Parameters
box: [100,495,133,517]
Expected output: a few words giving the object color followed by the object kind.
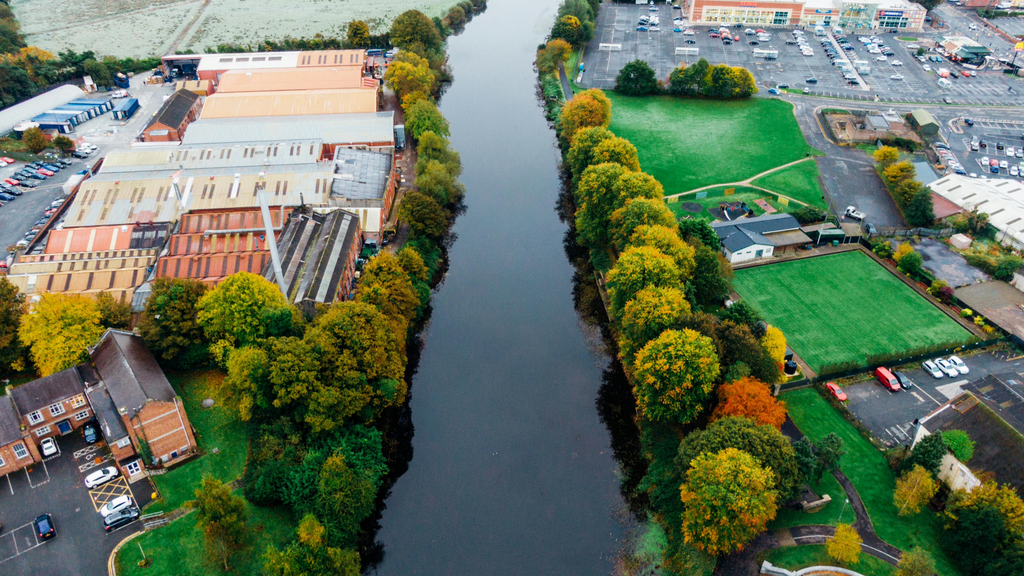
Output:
white car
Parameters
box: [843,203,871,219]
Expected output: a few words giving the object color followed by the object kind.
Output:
white vehicle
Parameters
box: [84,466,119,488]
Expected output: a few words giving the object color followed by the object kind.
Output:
white car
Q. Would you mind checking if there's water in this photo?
Yes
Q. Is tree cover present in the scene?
Yes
